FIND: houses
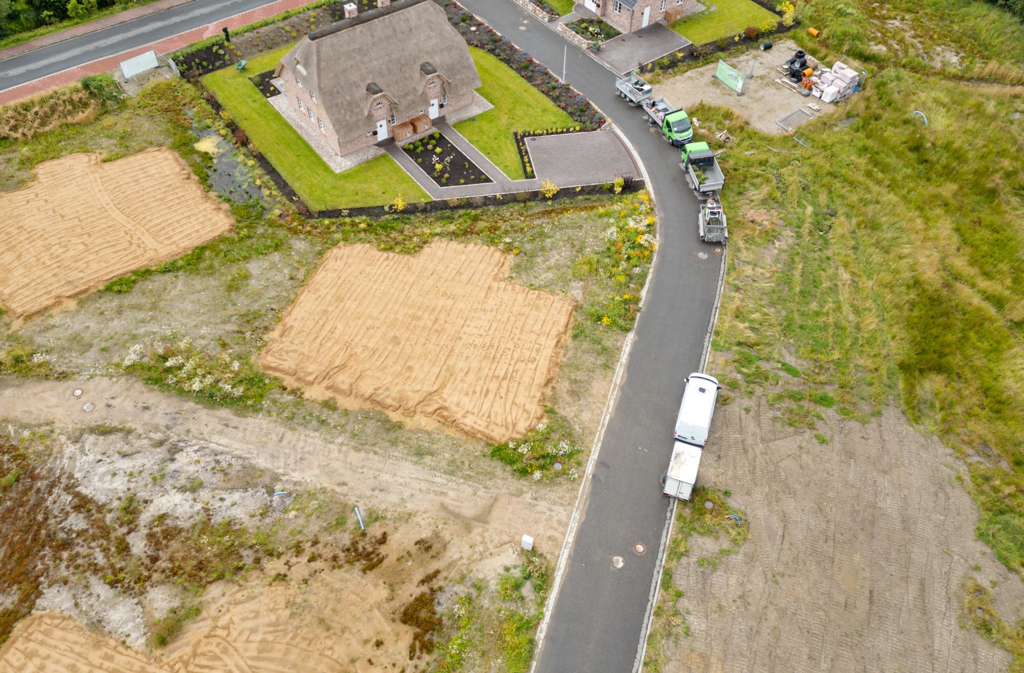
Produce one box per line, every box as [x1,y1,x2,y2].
[564,0,693,33]
[272,0,479,156]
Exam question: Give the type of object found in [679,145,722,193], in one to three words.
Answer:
truck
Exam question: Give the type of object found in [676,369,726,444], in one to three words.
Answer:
van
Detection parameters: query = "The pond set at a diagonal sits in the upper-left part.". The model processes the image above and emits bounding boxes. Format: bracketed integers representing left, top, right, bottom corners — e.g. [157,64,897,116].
[190,108,277,205]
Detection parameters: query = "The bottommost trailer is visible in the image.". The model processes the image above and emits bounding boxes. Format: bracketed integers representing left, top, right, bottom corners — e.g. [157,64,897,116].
[663,440,703,501]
